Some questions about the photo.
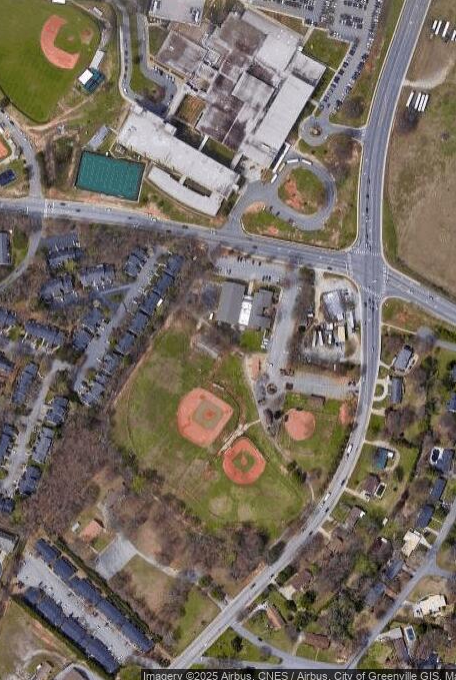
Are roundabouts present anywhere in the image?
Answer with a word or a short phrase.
Yes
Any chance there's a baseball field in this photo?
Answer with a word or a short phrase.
Yes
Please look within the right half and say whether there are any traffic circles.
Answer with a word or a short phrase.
Yes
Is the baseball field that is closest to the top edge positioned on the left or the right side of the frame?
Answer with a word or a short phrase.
left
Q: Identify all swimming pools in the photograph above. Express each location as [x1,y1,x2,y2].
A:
[403,624,417,644]
[430,446,441,464]
[375,483,387,498]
